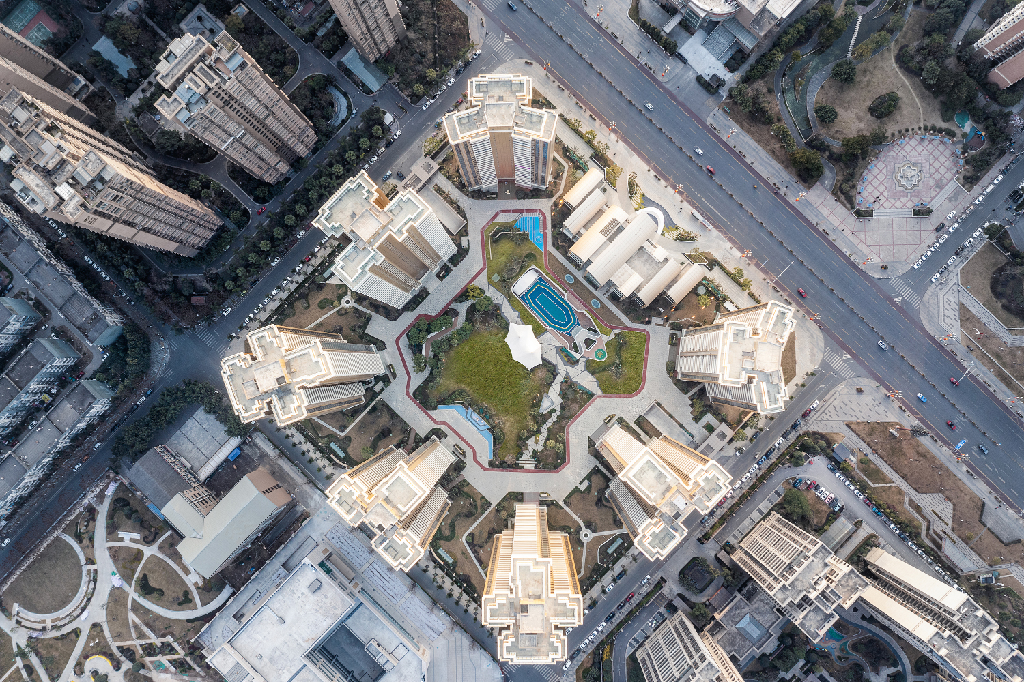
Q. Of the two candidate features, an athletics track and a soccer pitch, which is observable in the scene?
athletics track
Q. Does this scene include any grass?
Yes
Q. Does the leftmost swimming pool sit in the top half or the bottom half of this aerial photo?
top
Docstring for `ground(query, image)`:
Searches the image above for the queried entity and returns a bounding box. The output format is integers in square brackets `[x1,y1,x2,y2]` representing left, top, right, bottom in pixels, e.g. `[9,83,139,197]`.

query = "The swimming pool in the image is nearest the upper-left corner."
[92,35,129,73]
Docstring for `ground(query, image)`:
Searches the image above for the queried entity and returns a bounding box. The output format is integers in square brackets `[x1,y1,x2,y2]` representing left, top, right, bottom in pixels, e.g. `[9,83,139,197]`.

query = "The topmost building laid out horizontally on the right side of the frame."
[662,0,798,61]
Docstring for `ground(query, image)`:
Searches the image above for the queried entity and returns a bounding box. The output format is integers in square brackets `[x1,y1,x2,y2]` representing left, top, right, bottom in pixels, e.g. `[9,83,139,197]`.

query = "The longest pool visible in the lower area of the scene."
[438,404,493,460]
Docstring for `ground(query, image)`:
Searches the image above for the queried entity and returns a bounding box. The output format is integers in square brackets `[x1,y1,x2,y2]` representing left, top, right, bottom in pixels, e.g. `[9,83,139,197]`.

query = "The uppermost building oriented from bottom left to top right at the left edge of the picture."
[0,339,75,434]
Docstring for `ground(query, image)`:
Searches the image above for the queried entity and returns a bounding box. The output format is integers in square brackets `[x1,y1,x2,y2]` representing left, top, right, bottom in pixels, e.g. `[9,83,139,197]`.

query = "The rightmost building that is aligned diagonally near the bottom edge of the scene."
[860,548,1024,682]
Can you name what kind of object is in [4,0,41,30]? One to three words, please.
tennis court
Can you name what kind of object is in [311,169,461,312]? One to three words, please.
building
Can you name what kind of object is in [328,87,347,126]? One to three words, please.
swimming pool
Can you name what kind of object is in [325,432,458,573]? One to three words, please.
building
